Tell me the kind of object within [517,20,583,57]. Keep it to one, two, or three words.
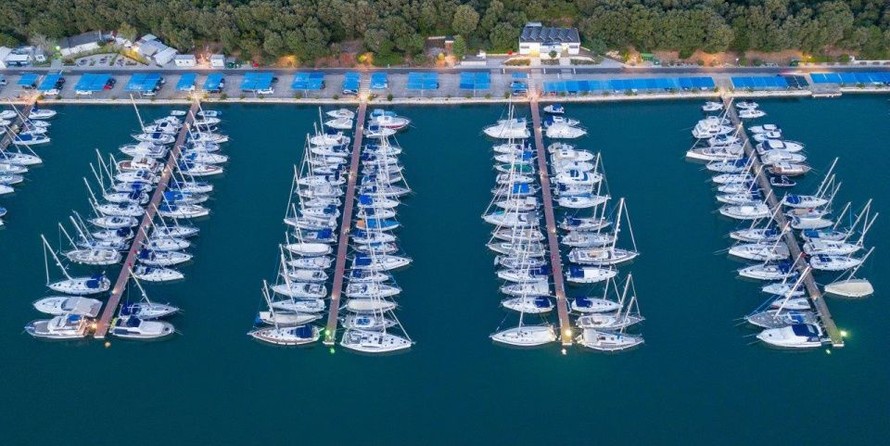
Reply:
building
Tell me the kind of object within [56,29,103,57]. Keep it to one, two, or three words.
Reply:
building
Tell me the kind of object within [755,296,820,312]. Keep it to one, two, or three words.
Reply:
boat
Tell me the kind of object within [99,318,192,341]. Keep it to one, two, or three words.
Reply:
boat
